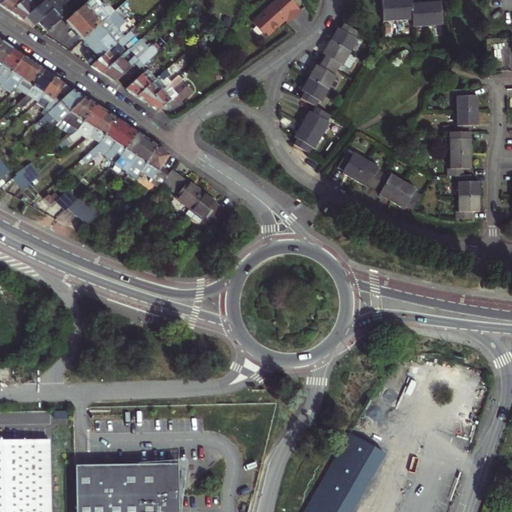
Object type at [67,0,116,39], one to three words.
house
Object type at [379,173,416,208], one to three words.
house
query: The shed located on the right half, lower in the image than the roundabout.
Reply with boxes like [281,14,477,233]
[296,429,384,512]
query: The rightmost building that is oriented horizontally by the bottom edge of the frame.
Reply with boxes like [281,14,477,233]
[76,458,188,512]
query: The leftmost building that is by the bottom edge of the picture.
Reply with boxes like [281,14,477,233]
[0,436,54,512]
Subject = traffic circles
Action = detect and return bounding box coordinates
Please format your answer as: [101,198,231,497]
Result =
[220,234,360,373]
